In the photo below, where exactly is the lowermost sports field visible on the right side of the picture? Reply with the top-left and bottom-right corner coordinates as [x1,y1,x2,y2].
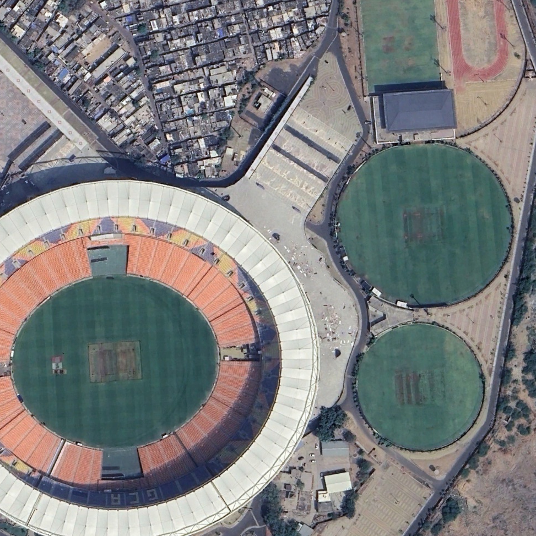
[355,321,486,451]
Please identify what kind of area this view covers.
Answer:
sports ground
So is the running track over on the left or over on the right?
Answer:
right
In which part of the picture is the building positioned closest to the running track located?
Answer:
top right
